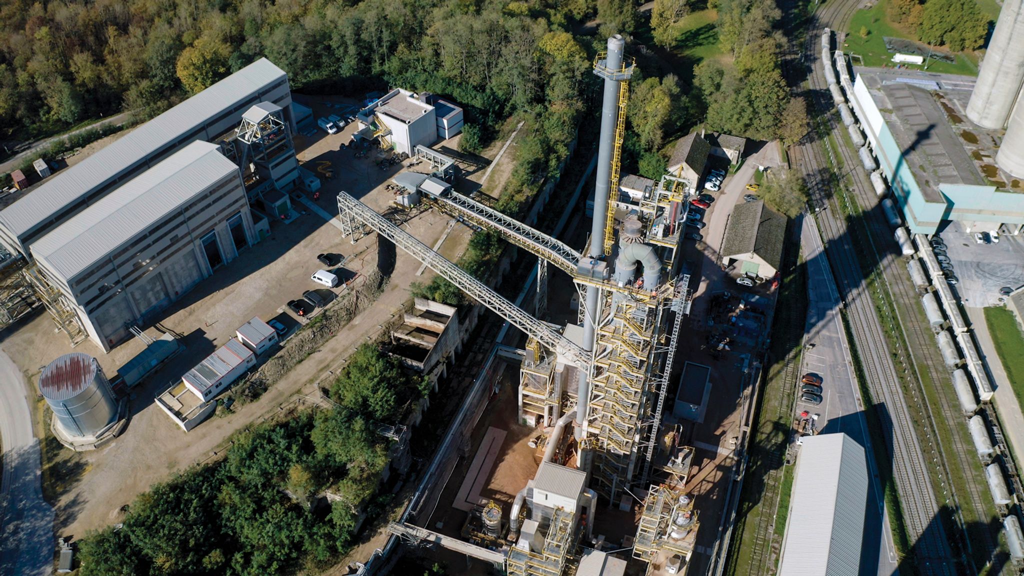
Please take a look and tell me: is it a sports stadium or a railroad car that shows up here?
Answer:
railroad car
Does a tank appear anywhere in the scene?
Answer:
Yes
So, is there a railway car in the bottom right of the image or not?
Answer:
Yes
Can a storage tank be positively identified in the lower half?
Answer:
Yes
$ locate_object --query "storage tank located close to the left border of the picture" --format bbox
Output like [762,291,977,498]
[34,353,127,452]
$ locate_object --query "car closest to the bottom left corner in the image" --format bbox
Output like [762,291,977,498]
[266,317,287,334]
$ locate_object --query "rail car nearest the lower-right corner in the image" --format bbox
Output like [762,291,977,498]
[998,510,1024,569]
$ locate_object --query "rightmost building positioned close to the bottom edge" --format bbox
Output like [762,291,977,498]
[777,432,868,576]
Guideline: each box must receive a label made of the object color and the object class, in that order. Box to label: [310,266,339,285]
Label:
white vehicle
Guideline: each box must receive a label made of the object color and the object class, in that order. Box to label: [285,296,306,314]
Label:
black car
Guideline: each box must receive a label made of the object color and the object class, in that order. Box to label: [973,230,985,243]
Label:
white vehicle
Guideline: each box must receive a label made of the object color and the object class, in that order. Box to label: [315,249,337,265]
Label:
black car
